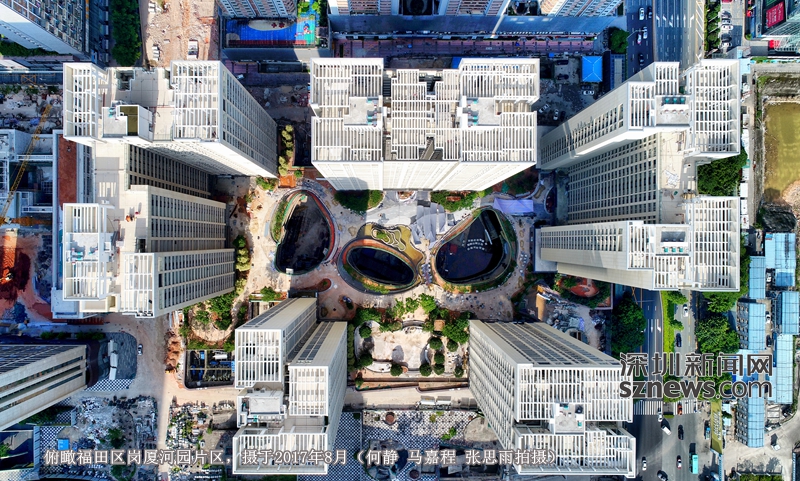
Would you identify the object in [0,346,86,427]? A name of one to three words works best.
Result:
building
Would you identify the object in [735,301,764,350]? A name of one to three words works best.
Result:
shed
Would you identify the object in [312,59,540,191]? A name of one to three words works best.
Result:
building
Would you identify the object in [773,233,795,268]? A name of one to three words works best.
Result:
shed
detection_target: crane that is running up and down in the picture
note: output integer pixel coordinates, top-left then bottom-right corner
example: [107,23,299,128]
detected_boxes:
[0,100,65,226]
